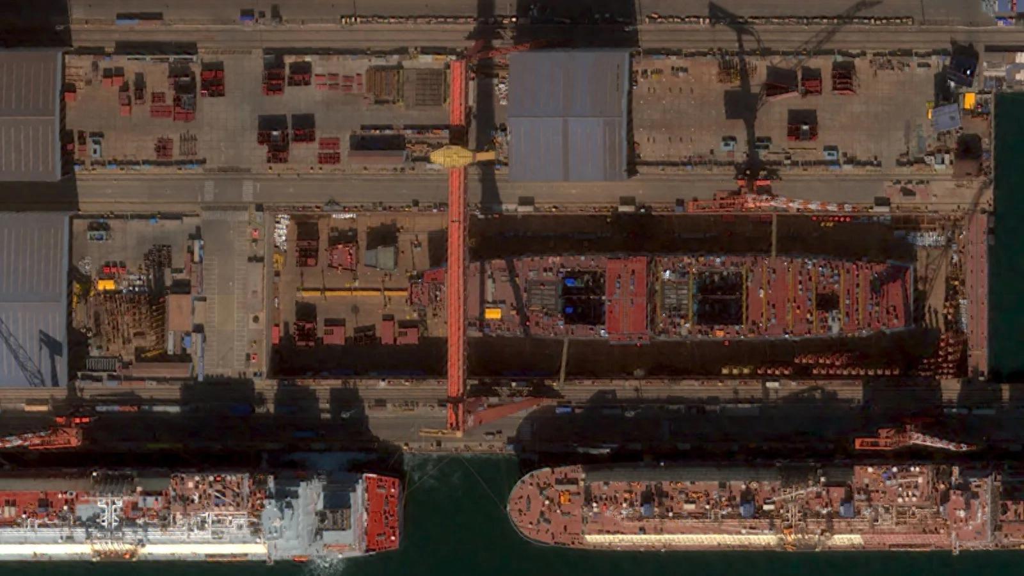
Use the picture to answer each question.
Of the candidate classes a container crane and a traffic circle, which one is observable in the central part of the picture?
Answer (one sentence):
There is a container crane in the central part of the picture.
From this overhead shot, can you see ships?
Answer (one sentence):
Yes, a ship is visible in the scene.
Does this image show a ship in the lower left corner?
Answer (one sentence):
Yes, the scene does show a ship in the lower left corner.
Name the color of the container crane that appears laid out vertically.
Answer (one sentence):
The container crane that appears laid out vertically is red.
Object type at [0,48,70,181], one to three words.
shed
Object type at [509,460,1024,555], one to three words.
ship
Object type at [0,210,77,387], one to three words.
shed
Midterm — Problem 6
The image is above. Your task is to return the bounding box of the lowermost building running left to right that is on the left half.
[131,363,194,376]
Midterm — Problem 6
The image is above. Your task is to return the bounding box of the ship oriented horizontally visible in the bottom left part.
[0,467,403,565]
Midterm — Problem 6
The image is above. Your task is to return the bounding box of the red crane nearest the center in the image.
[430,39,566,431]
